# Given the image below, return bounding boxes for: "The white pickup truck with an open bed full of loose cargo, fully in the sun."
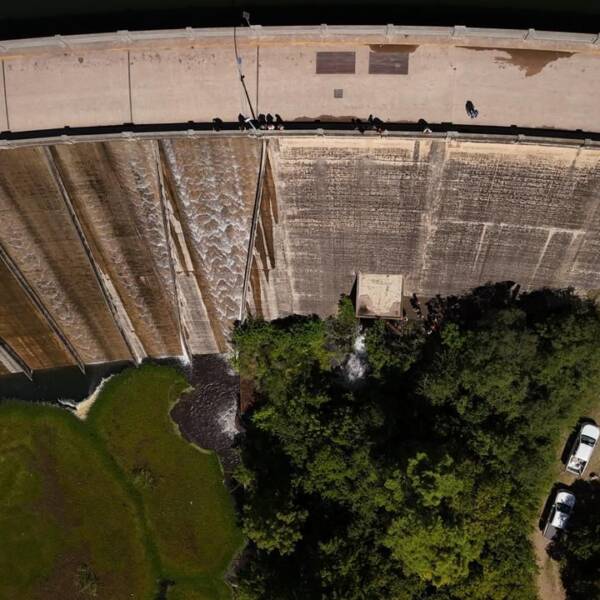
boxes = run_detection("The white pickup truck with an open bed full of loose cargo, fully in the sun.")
[562,421,598,478]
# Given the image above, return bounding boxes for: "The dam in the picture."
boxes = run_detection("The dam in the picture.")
[0,24,600,375]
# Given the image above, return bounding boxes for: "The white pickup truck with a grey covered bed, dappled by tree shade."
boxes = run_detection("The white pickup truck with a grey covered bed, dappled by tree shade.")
[540,485,573,543]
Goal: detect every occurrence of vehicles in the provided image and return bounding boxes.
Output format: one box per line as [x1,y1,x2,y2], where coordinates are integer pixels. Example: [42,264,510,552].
[562,421,598,478]
[540,485,573,543]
